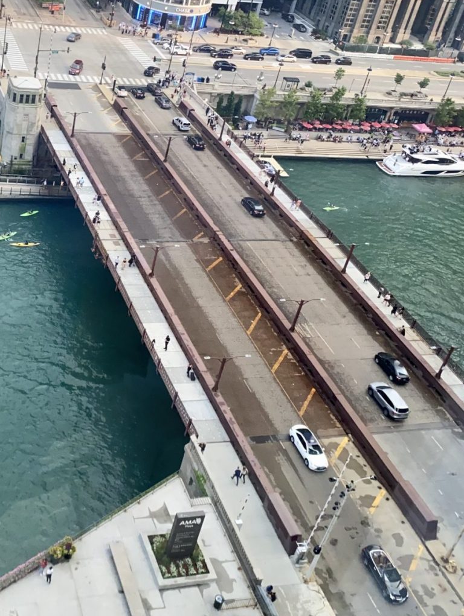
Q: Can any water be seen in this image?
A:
Yes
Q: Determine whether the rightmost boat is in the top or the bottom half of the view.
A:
top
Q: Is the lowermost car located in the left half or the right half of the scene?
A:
right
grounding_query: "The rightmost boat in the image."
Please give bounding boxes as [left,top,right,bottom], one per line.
[378,144,464,177]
